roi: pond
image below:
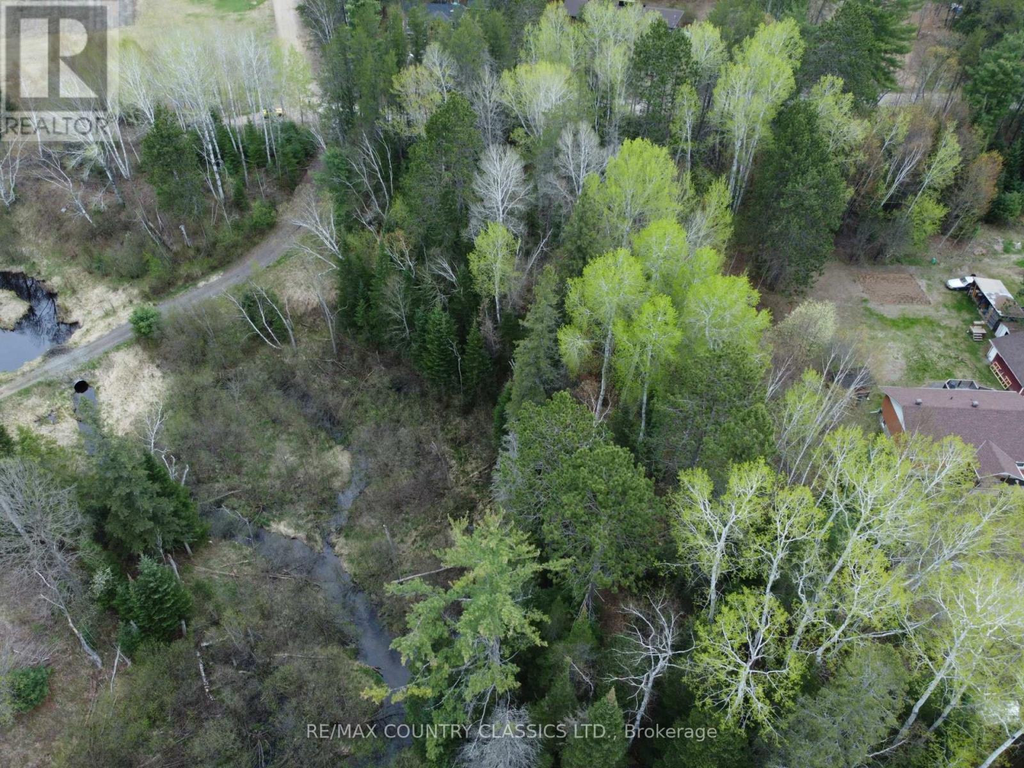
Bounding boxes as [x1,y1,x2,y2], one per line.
[0,270,80,369]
